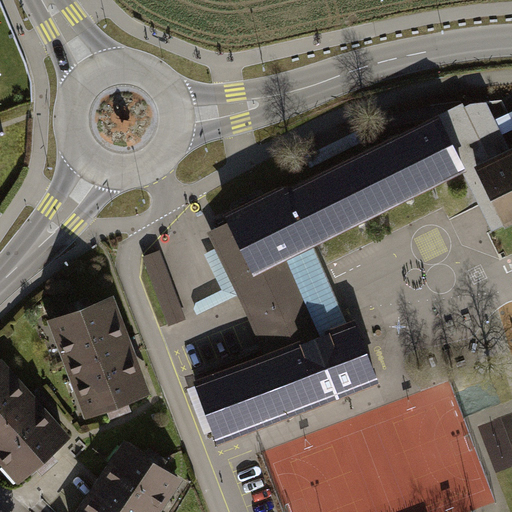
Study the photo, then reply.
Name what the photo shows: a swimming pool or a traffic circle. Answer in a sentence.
I can see a traffic circle in this picture.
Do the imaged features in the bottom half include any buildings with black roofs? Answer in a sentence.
Yes, there is a building with a black roof in the bottom half.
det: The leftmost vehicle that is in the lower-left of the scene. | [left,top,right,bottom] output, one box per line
[71,475,90,496]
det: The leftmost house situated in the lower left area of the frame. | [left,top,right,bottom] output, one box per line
[0,358,70,486]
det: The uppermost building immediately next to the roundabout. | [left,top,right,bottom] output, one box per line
[224,111,468,276]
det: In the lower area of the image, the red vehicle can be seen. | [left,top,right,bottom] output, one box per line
[251,490,272,504]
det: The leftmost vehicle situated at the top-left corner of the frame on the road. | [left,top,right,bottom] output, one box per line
[54,43,68,69]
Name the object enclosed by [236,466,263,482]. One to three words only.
car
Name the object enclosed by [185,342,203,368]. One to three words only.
car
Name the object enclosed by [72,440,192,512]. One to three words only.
house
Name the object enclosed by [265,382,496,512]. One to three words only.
sports court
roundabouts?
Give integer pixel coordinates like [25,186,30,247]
[53,46,196,191]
